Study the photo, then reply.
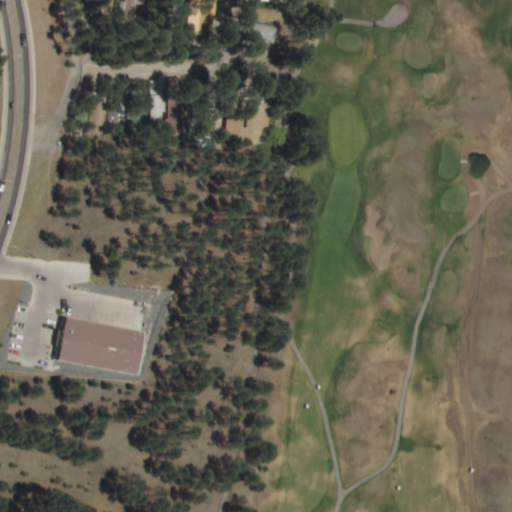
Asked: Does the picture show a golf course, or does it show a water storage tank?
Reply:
golf course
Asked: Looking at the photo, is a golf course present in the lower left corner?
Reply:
No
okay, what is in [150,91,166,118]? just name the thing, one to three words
house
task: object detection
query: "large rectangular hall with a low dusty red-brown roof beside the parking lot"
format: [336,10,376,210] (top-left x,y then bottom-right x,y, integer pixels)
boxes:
[54,317,146,376]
